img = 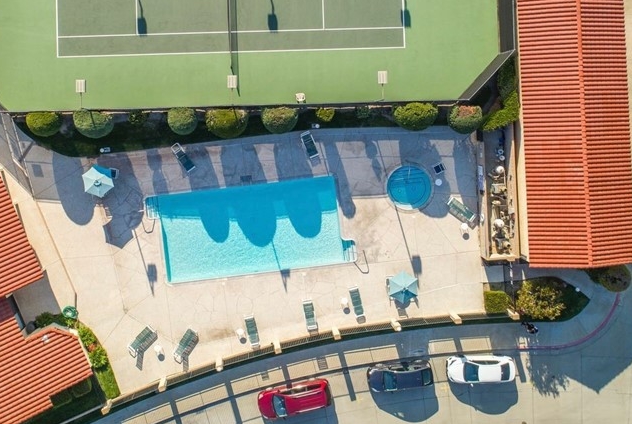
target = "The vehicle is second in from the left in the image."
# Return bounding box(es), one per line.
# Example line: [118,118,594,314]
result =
[366,358,434,393]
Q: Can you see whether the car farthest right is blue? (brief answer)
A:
No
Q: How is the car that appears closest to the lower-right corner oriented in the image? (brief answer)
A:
from left to right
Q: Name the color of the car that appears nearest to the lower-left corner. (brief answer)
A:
red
